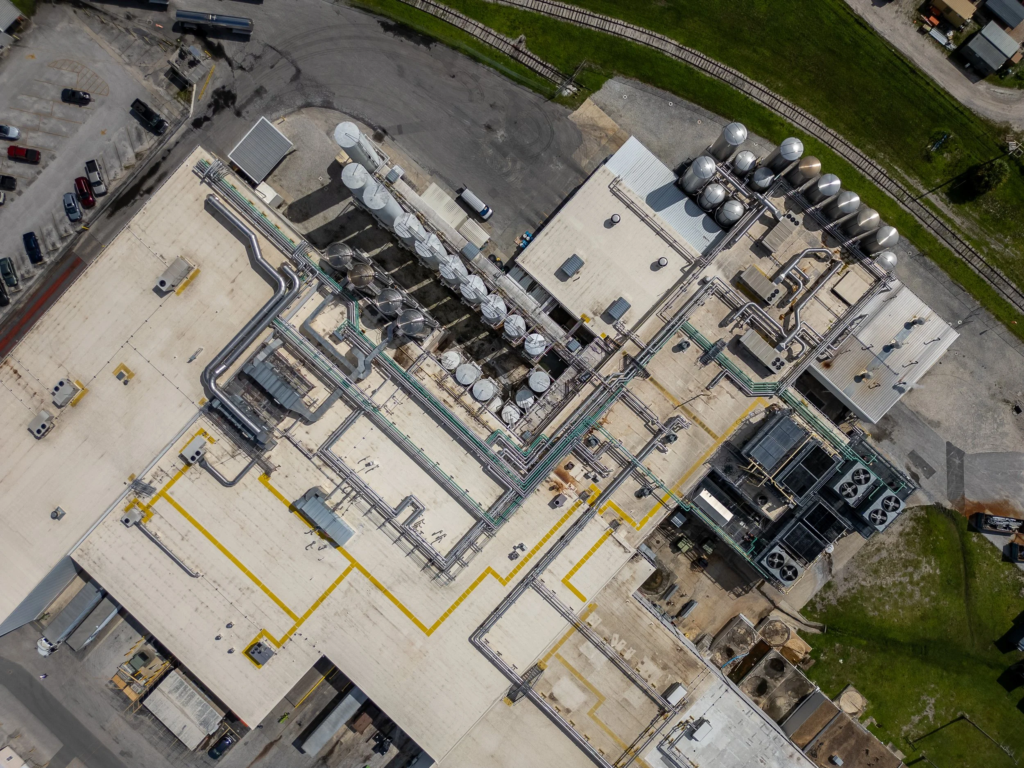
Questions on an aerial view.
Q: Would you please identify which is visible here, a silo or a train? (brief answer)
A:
silo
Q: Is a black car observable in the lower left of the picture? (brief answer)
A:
Yes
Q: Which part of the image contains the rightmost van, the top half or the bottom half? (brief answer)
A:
top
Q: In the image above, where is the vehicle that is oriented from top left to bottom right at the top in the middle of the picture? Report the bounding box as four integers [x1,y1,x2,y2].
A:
[454,184,493,224]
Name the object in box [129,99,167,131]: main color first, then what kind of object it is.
black truck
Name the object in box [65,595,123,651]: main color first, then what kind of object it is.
gray trailer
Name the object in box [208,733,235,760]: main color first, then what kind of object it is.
black car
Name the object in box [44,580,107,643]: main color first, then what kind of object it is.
gray trailer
